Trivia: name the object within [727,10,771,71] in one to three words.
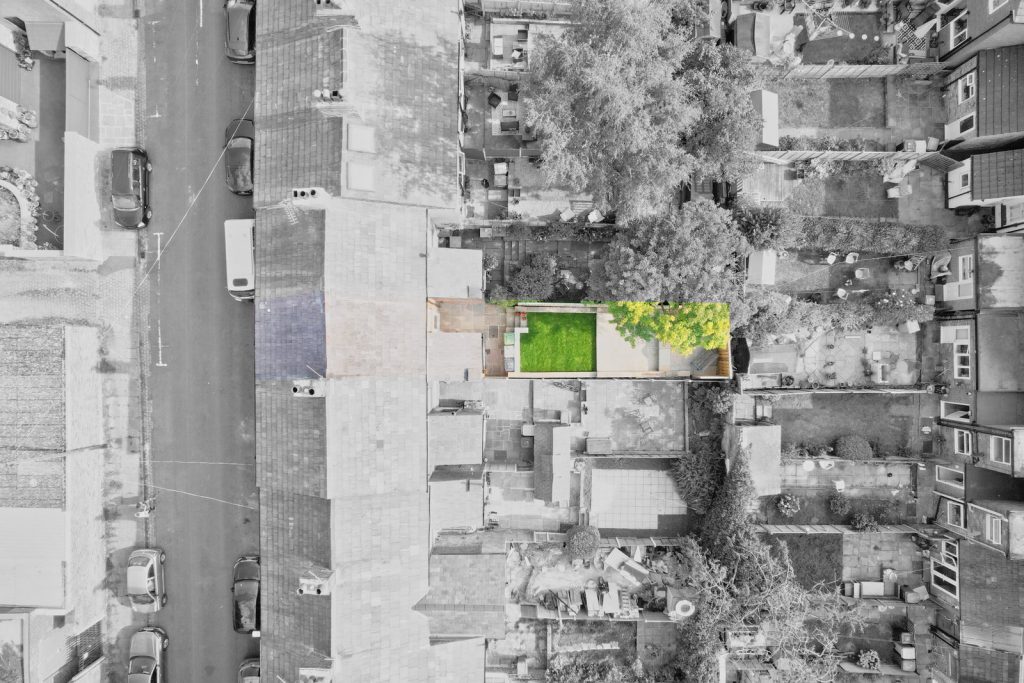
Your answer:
shed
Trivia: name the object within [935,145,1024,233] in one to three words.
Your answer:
house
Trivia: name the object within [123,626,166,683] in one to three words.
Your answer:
car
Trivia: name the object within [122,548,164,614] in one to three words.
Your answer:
car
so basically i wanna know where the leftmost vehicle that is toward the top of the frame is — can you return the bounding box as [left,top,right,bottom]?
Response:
[106,148,151,228]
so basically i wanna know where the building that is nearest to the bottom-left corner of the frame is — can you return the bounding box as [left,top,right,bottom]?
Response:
[33,591,102,683]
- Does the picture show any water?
No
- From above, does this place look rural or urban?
urban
